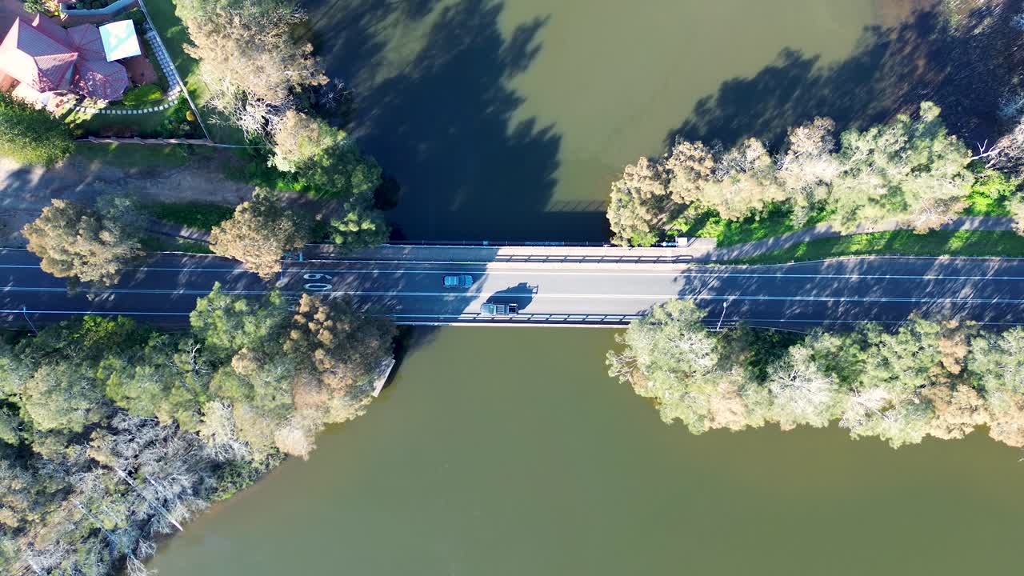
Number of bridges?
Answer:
1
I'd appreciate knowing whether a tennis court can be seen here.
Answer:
No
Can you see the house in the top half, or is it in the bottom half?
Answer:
top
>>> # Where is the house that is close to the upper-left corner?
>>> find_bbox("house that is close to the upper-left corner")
[0,8,133,103]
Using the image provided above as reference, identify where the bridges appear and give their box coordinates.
[282,239,728,330]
